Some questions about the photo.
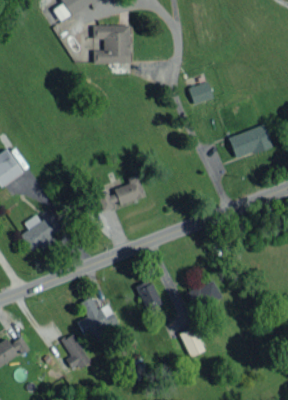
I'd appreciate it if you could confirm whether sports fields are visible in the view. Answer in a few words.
No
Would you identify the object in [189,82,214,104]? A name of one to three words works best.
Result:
shed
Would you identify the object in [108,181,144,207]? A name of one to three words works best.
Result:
house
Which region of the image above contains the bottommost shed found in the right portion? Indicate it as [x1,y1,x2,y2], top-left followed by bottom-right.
[180,328,206,358]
